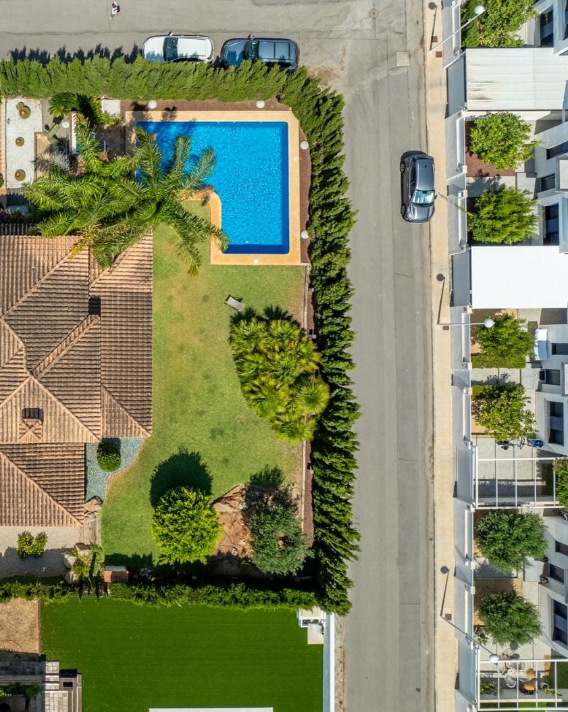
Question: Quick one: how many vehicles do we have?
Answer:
three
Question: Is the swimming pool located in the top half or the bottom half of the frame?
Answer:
top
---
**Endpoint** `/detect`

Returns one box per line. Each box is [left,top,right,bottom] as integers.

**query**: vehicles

[217,33,298,73]
[139,31,213,67]
[398,153,438,224]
